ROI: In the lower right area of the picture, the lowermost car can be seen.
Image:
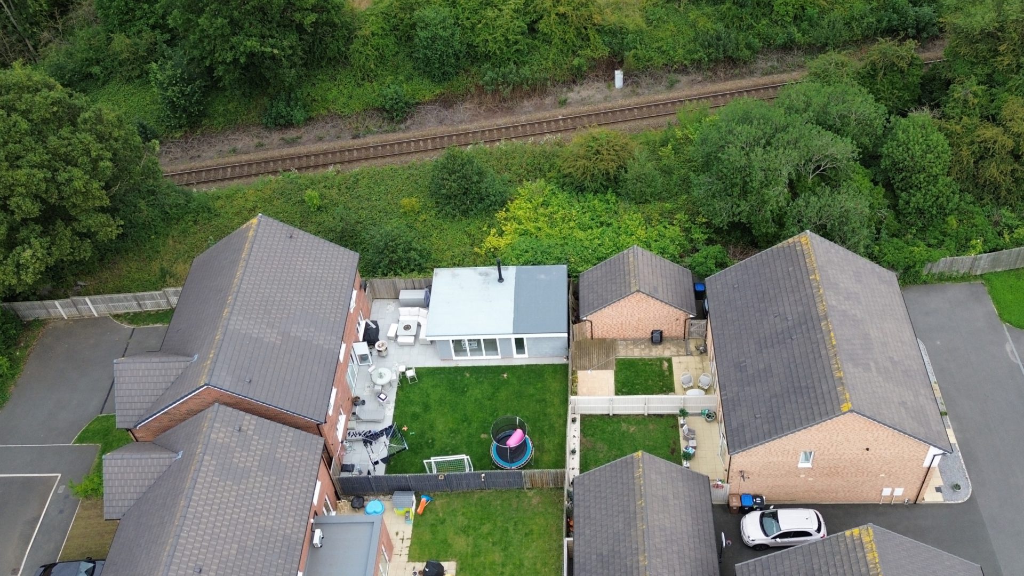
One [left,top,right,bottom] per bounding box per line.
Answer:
[740,506,828,552]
